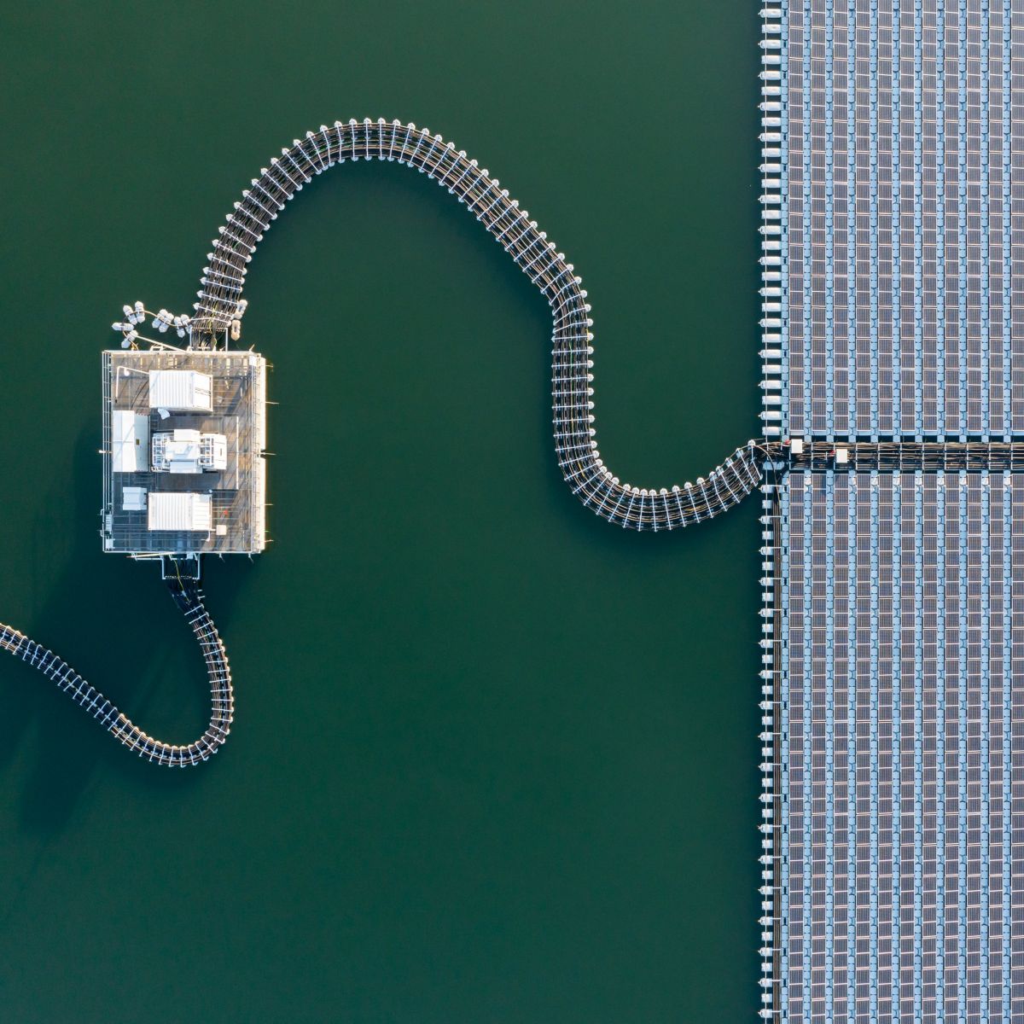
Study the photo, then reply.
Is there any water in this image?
Yes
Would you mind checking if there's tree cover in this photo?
No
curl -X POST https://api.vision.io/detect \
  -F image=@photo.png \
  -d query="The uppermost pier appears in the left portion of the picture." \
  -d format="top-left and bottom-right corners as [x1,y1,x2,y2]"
[255,356,267,451]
